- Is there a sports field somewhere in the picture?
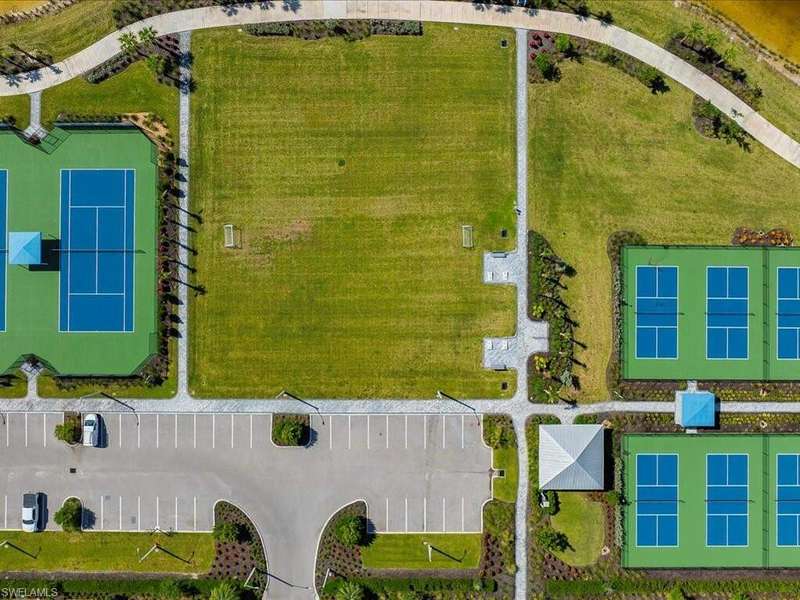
Yes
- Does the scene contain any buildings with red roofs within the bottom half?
No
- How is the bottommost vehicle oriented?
up and down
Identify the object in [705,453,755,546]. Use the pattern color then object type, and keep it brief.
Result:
blue sports court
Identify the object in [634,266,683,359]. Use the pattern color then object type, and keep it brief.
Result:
blue sports court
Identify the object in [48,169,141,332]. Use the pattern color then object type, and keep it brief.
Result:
blue tennis court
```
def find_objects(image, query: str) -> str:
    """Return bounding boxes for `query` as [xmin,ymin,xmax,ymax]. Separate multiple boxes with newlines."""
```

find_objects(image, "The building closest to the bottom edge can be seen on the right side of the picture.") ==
[538,423,605,490]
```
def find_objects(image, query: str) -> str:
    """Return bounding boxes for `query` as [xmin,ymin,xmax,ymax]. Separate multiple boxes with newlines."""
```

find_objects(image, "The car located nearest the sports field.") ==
[80,414,98,446]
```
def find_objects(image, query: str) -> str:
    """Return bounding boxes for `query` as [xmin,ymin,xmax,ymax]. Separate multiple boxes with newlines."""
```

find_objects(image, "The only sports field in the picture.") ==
[190,21,517,398]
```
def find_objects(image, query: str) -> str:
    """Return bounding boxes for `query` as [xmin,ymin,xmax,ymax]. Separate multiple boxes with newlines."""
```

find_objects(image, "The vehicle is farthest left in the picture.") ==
[22,491,41,531]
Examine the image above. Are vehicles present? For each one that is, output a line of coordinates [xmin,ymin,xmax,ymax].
[22,491,41,531]
[80,414,98,446]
